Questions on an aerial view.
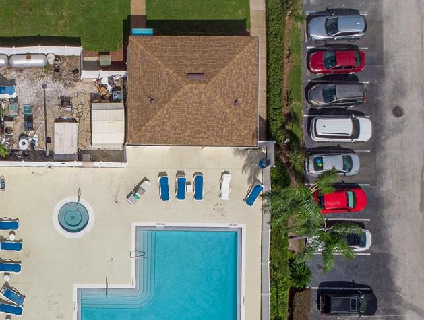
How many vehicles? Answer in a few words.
8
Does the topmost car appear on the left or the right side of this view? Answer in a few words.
right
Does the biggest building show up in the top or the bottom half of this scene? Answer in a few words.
top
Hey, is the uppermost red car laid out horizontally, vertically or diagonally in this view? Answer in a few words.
horizontally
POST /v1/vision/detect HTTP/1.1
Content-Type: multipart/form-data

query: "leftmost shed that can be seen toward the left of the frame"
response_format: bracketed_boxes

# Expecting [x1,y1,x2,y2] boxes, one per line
[55,122,78,160]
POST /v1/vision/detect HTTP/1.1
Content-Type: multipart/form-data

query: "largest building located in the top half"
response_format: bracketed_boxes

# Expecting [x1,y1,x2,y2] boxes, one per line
[125,28,260,149]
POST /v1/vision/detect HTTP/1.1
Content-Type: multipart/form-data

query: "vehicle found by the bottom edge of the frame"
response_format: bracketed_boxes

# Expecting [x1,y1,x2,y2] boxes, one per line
[316,287,377,316]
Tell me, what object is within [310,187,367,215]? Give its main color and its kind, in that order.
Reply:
red car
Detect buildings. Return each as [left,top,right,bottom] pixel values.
[55,122,78,160]
[92,103,124,153]
[125,28,260,149]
